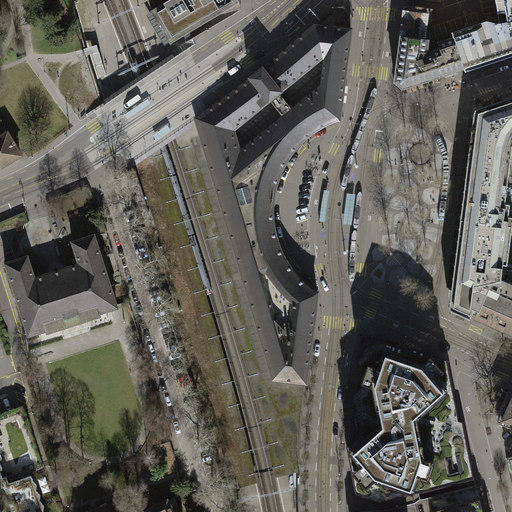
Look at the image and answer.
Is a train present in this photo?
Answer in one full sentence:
Yes, a train can be made out from above.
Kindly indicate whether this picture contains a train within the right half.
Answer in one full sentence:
Yes, the scene does show a train within the right half.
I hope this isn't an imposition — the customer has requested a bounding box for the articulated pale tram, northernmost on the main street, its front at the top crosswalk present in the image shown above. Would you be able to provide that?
[351,88,376,154]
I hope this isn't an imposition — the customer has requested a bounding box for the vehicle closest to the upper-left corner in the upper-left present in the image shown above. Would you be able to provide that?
[123,95,140,108]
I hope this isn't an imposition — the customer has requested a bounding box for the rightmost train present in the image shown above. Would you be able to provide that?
[435,135,448,222]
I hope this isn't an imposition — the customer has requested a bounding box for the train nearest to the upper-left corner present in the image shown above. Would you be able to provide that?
[164,144,212,294]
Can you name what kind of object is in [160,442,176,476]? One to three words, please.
shed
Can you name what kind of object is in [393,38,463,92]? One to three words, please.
building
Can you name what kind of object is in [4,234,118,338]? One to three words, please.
building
